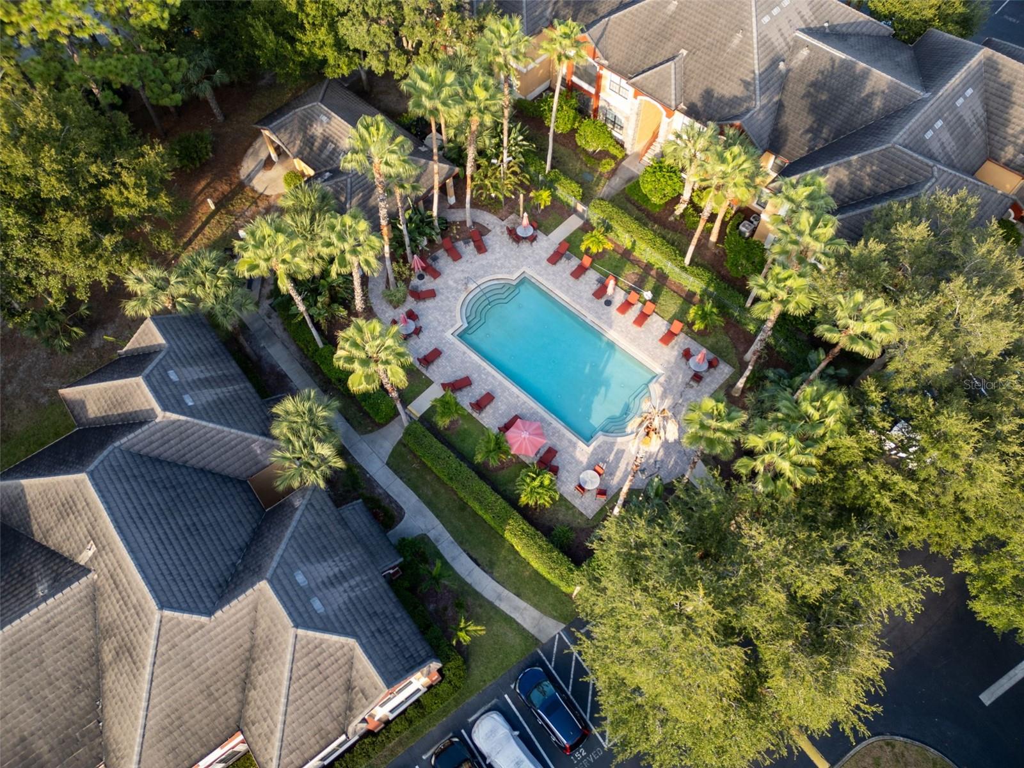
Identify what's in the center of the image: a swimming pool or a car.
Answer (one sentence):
You can see a swimming pool in the center of the image.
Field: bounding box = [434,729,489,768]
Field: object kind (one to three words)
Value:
car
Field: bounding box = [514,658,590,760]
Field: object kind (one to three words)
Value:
car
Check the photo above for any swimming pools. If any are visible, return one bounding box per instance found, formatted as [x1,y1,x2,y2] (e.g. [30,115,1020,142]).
[449,272,664,451]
